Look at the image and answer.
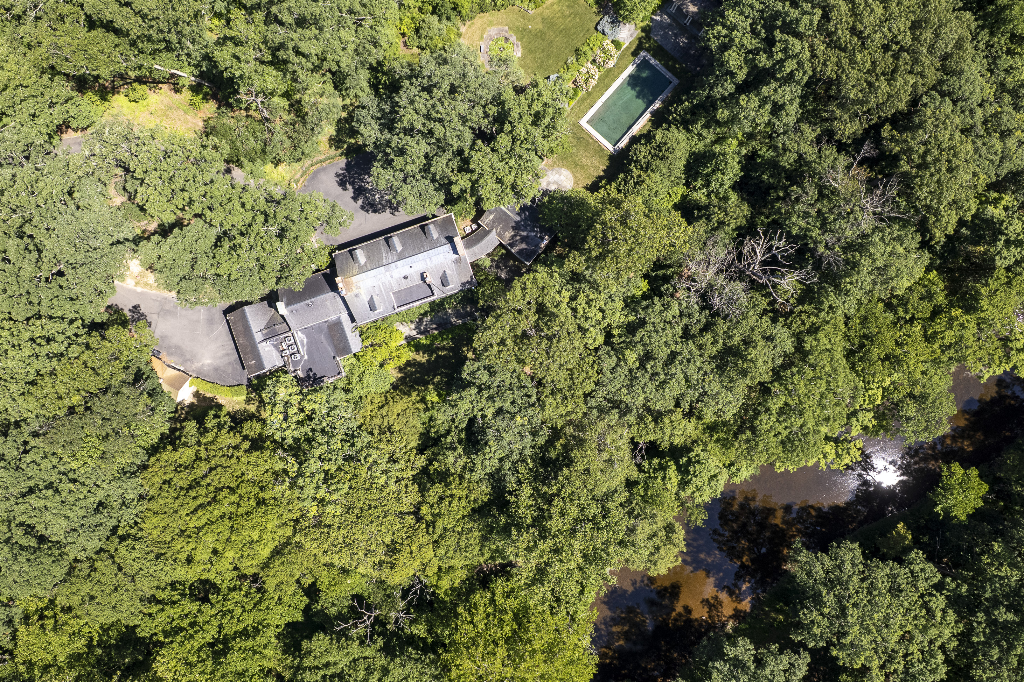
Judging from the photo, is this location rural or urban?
rural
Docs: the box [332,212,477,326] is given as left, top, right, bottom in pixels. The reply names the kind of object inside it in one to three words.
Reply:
house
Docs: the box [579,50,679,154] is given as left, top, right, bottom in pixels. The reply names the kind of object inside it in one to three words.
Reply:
swimming pool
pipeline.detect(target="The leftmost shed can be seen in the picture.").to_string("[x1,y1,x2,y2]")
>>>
[152,355,199,402]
